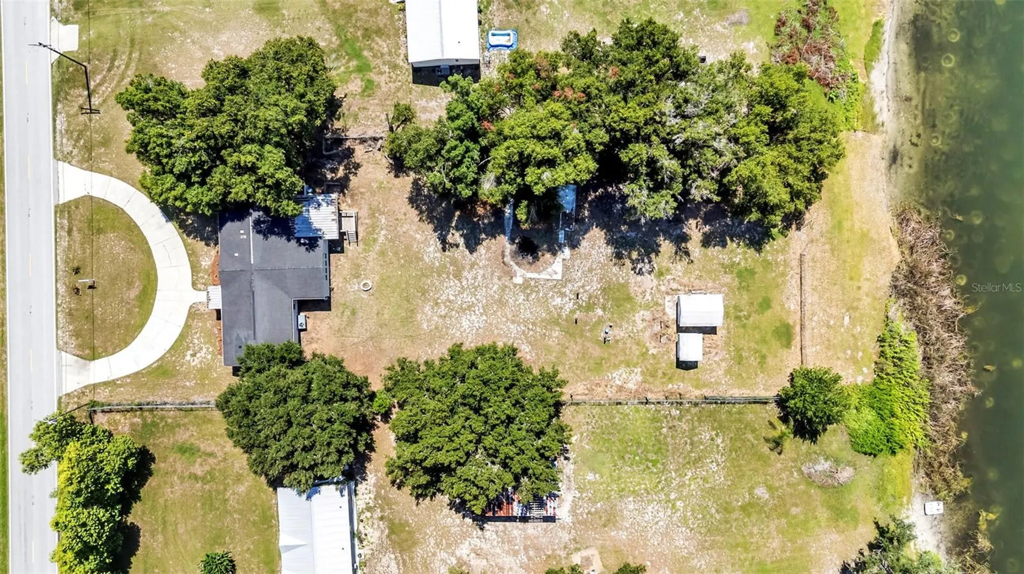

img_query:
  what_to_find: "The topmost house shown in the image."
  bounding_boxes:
[408,0,479,68]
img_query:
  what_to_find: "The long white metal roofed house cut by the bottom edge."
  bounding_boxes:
[278,476,356,574]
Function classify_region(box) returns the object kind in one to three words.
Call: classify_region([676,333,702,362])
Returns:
shed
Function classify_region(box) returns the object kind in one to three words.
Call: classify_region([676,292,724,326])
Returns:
shed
